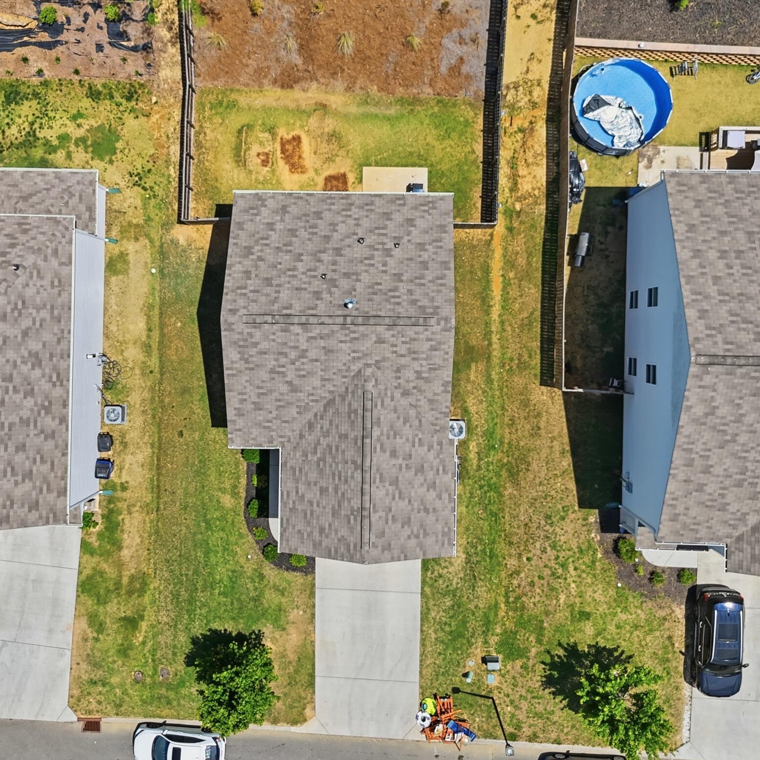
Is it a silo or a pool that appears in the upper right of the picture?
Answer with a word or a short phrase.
pool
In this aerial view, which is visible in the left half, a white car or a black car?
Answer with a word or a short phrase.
white car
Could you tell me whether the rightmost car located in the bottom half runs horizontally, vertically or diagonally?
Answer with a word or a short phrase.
vertically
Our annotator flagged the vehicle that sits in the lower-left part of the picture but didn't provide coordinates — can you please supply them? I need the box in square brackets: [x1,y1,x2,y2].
[133,721,227,760]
